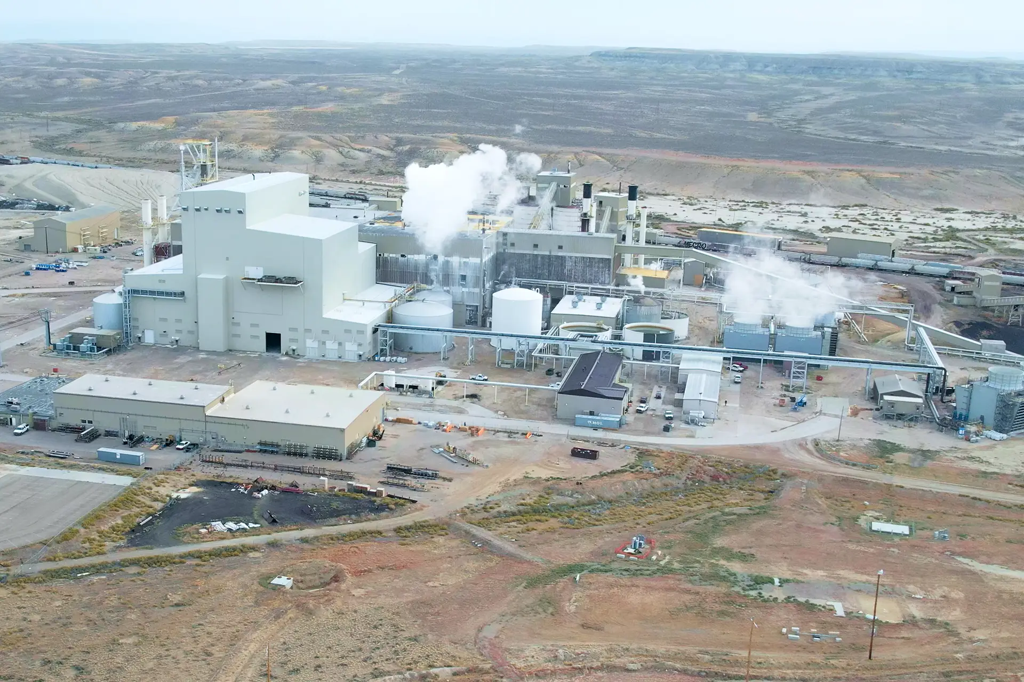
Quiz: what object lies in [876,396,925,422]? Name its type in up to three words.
building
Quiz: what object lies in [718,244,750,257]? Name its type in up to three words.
rail car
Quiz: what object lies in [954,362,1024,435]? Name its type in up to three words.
cooling tower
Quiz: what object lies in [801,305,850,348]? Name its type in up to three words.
house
